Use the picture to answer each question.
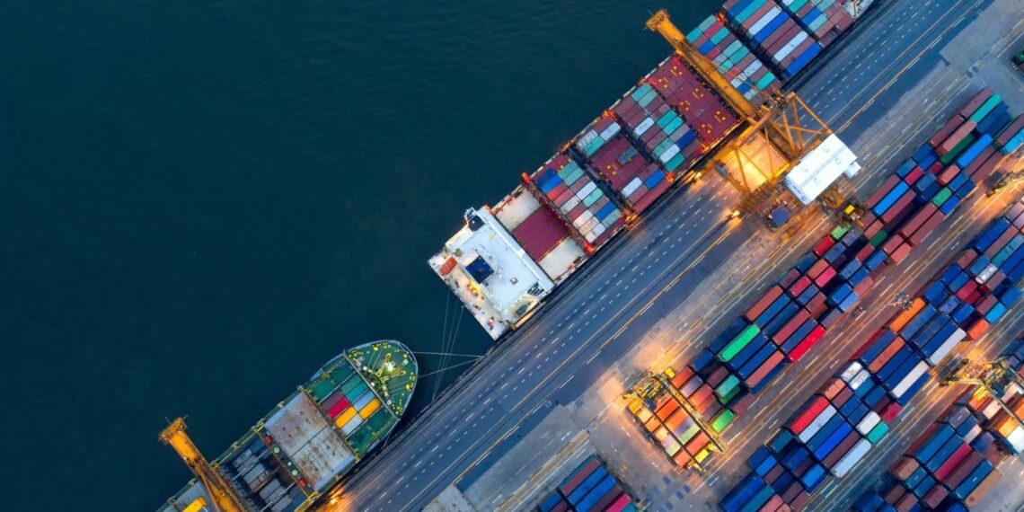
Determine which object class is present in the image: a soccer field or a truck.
truck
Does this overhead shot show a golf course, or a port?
port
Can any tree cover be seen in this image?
No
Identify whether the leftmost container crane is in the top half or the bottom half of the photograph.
bottom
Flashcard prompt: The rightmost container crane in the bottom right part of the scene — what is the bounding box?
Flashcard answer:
[946,359,1024,429]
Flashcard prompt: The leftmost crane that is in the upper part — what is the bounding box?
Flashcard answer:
[640,3,862,217]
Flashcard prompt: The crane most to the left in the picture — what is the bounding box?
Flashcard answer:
[144,416,247,512]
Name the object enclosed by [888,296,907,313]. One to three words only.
vehicle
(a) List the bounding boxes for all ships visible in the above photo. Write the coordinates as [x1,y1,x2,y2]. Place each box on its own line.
[158,341,418,512]
[431,0,869,337]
